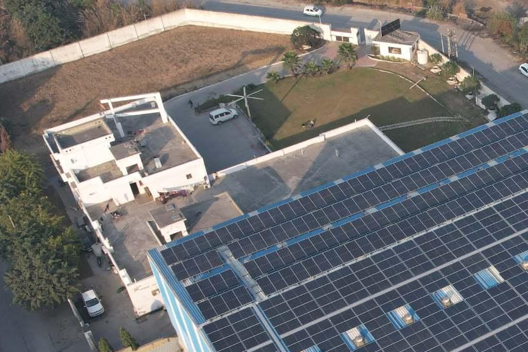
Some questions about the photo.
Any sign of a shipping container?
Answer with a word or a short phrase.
No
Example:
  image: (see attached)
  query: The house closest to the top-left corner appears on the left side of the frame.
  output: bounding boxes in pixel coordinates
[42,91,210,229]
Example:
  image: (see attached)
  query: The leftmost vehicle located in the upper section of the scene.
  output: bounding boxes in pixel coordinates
[207,105,241,125]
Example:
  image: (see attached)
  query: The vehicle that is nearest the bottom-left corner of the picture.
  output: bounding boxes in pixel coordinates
[80,285,104,314]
